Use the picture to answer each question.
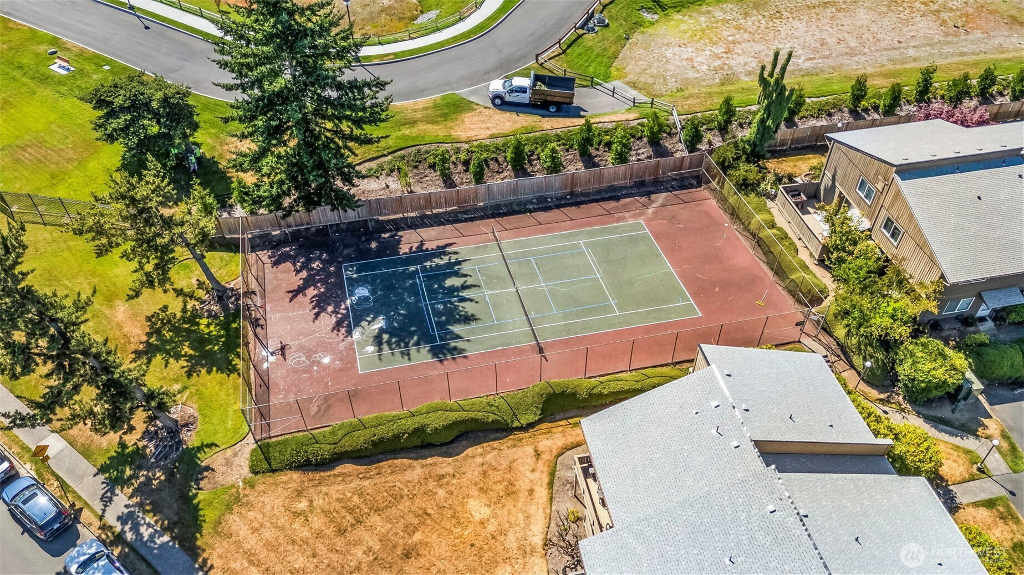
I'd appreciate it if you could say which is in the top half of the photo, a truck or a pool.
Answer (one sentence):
The feature located in the top half of the photo is a truck.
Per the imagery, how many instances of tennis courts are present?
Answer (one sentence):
The count comes to 1 tennis court.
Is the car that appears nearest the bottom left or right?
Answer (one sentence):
It is on the left.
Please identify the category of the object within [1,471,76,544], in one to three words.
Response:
car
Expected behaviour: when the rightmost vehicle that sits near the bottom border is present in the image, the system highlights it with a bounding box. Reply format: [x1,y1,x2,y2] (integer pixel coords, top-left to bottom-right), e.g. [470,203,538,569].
[67,538,135,575]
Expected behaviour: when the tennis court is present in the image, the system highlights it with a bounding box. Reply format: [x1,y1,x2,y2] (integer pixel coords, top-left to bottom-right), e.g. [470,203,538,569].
[250,182,814,443]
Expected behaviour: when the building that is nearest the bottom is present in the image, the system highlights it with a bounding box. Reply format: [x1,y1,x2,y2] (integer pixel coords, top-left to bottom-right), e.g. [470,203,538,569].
[569,344,992,575]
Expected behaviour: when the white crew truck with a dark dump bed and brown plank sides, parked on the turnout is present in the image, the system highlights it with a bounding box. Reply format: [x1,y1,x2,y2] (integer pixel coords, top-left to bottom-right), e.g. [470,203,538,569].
[486,71,580,114]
